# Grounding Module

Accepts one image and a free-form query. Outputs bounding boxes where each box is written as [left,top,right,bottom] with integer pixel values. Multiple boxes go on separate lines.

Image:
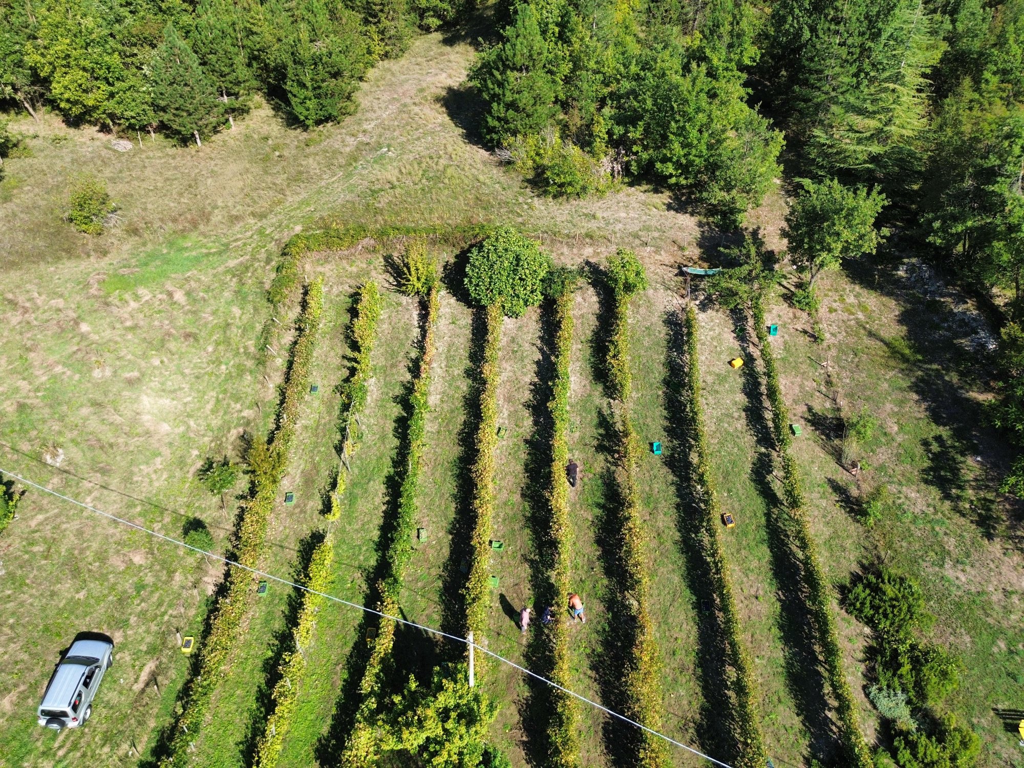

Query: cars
[33,643,112,733]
